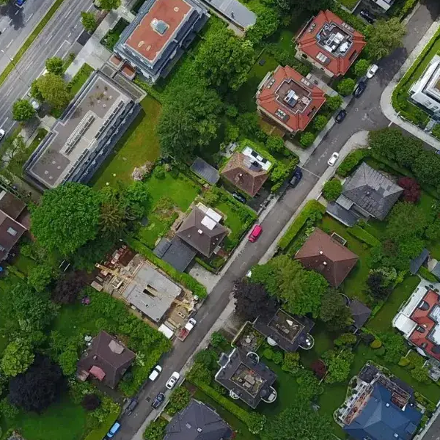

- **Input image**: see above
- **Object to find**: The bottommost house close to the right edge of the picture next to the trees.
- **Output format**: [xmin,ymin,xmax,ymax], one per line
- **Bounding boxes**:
[333,361,425,440]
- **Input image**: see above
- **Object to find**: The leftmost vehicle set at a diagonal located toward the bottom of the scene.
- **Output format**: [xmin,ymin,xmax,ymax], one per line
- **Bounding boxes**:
[107,422,120,438]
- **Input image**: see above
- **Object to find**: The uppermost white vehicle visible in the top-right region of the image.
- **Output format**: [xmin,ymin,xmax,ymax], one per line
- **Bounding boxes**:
[366,63,379,79]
